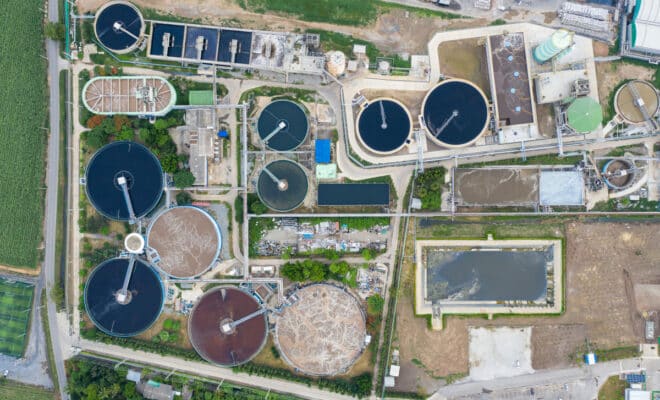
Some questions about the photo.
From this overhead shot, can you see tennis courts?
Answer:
No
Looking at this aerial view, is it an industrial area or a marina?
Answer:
industrial area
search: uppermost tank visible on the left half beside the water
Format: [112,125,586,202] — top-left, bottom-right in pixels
[93,1,147,54]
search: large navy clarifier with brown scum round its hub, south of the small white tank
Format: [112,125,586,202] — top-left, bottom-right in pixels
[84,256,168,338]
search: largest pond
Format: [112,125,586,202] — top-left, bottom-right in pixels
[415,233,563,330]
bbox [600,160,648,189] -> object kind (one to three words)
storage tank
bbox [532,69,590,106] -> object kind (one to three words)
building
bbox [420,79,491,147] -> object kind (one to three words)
storage tank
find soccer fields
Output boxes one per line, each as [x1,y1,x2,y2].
[0,280,34,361]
